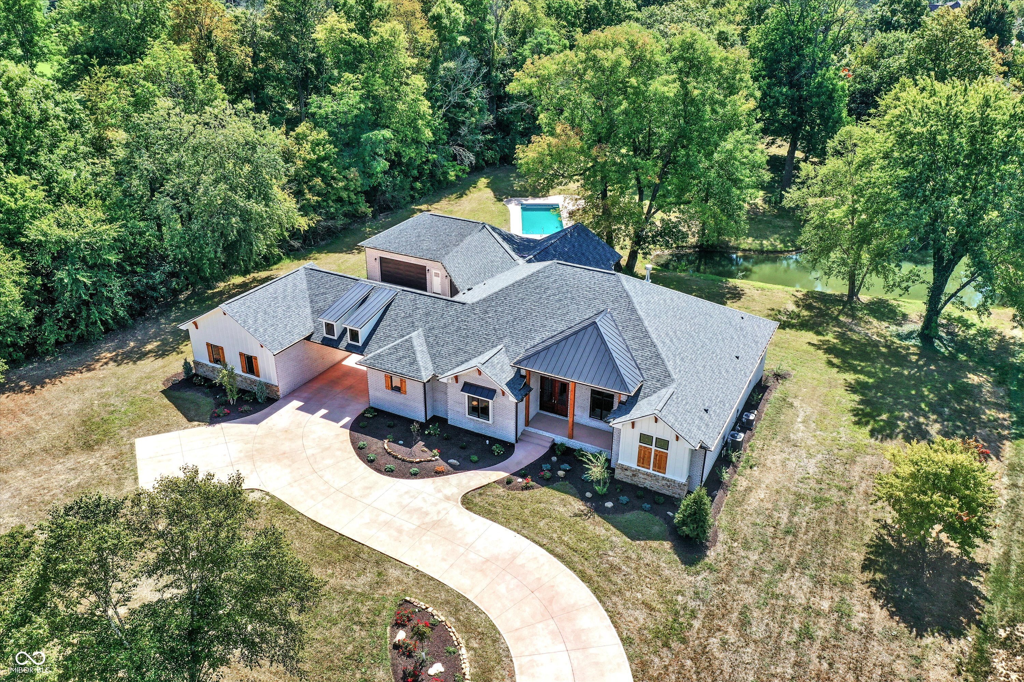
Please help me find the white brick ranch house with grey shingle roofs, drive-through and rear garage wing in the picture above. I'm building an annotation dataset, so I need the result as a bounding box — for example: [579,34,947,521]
[177,212,783,498]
